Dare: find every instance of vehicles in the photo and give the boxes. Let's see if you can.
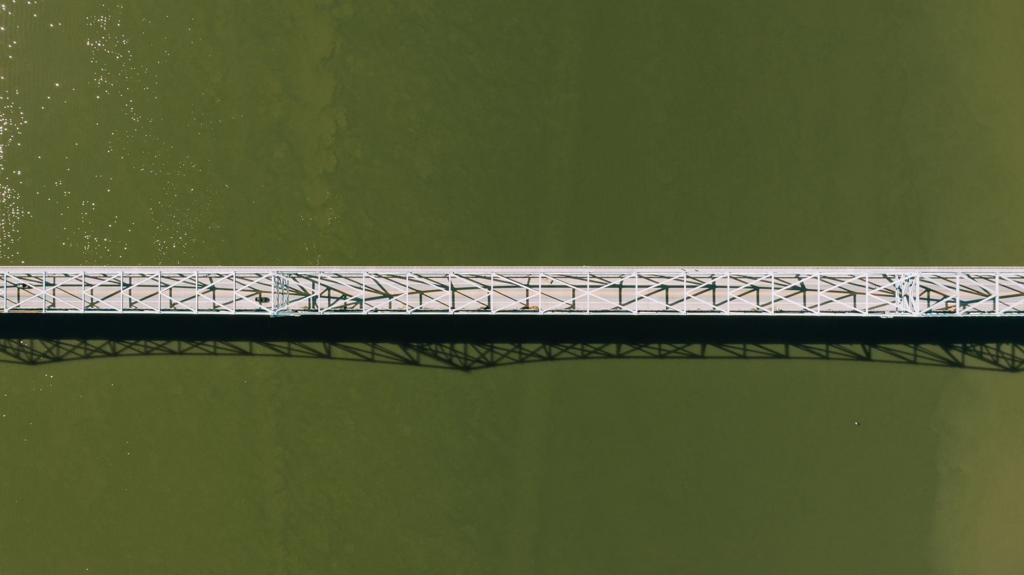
[255,297,270,303]
[16,283,30,289]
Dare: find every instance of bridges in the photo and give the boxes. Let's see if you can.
[0,265,1024,319]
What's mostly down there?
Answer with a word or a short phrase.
water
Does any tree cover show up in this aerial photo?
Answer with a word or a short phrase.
No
